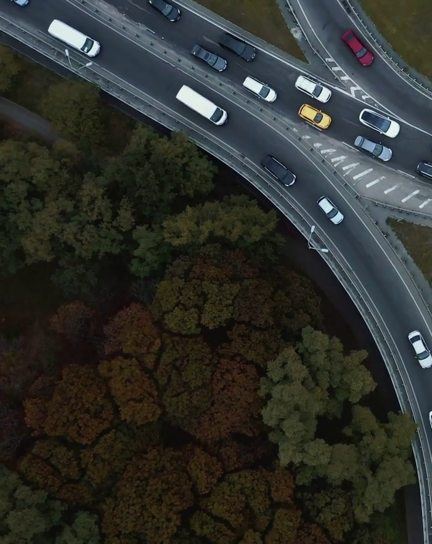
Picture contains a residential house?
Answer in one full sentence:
No, there isn't any residential house down there.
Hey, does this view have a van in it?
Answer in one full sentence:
Yes, the photo shows a van.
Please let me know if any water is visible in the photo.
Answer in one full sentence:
No, the picture contains no water.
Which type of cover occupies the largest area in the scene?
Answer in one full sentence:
Most of the picture is covered by trees.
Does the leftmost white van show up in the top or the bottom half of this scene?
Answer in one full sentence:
Seen from above, the leftmost white van lies in the top half of the view.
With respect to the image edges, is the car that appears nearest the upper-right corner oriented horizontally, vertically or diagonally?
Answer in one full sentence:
In this picture, the car that appears nearest the upper-right corner is oriented diagonally.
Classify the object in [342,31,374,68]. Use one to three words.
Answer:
car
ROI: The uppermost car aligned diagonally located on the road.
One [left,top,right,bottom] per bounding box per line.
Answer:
[147,0,183,23]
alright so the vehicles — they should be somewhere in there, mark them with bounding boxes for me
[416,161,432,180]
[191,44,229,73]
[359,109,400,139]
[240,75,278,104]
[10,0,31,8]
[173,84,230,127]
[315,195,345,225]
[218,33,258,62]
[408,330,432,368]
[342,31,374,68]
[293,75,333,104]
[297,103,333,132]
[46,18,104,59]
[147,0,183,23]
[353,134,393,163]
